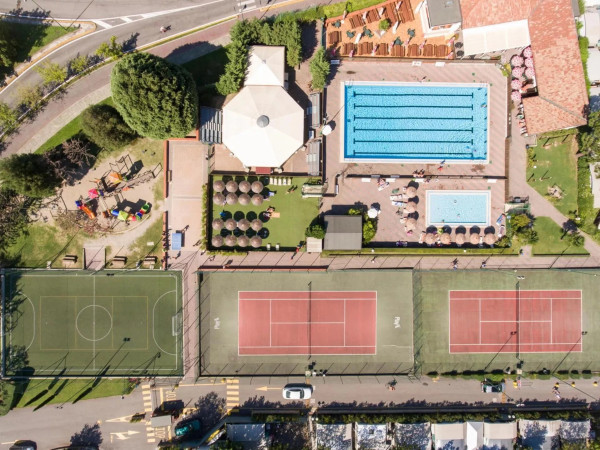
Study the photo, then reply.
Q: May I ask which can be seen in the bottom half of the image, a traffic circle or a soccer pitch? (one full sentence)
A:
The feature located in the bottom half of the image is a soccer pitch.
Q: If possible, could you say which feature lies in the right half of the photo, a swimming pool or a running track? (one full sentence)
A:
The one visible in the right half of the photo is a swimming pool.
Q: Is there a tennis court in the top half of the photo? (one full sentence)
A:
No, no tennis court is visible in the top half of the photo.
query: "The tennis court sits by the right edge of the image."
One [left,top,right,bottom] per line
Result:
[414,270,600,374]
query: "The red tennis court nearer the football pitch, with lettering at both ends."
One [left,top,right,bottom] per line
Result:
[201,271,414,376]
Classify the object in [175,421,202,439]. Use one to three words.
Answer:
car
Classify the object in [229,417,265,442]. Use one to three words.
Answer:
house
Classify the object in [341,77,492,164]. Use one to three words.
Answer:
swimming pool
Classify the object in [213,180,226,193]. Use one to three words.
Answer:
umbrella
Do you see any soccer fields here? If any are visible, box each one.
[2,270,182,377]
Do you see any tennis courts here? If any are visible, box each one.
[201,271,414,376]
[414,270,600,374]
